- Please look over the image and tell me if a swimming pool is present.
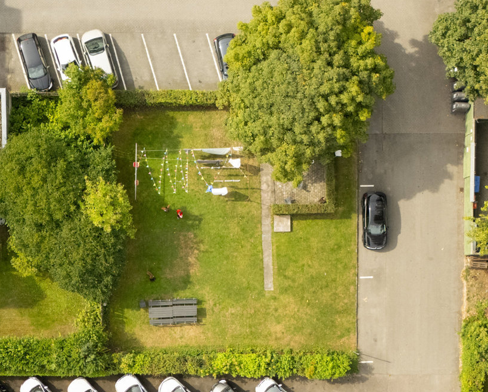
No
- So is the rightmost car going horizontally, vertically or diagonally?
vertically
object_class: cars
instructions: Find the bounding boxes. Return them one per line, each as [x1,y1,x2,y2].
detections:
[255,380,285,392]
[214,29,236,62]
[68,377,98,392]
[20,376,51,392]
[52,33,85,76]
[114,375,147,392]
[160,378,191,392]
[85,28,119,84]
[19,31,52,90]
[207,379,238,392]
[361,190,390,250]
